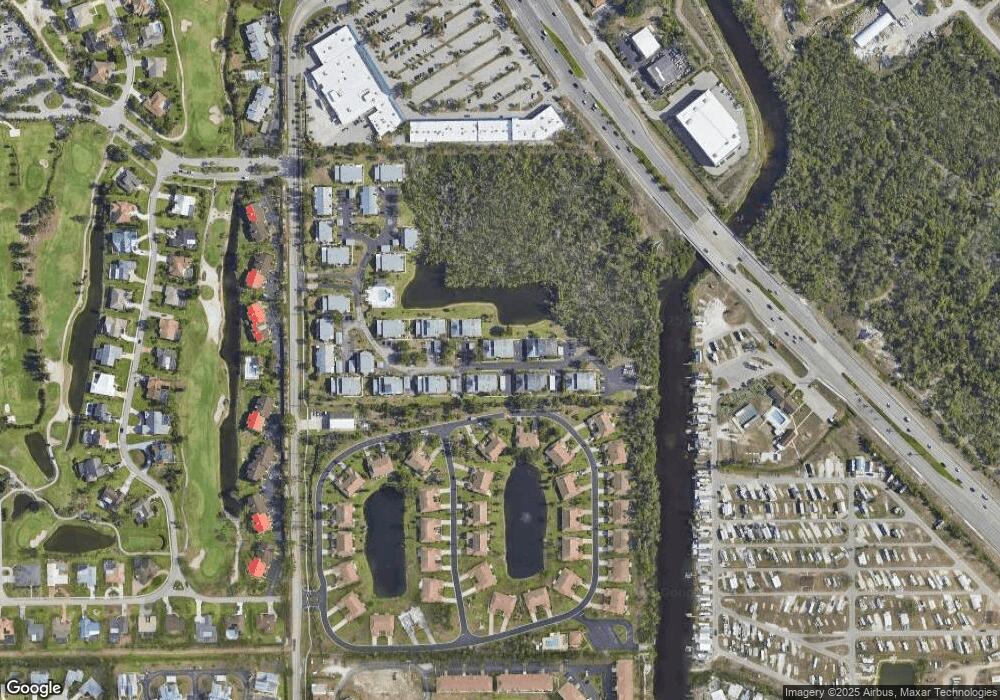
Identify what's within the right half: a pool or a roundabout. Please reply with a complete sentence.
The feature located within the right half is a pool.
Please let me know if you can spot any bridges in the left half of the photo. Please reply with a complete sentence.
No, there's no bridge to be seen in the left half of the photo.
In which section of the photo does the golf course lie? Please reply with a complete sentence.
You can find the golf course in the left area of the picture.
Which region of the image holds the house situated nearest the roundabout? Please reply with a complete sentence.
The house situated nearest the roundabout is located in the top left region of the scene.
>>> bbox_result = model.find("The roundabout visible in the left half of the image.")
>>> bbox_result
[33,87,75,118]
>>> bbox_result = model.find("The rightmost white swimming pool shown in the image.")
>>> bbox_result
[761,404,788,431]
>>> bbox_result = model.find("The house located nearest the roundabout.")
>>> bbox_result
[85,61,114,82]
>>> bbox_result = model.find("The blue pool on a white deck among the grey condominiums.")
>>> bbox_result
[368,287,394,307]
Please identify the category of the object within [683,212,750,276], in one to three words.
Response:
bridge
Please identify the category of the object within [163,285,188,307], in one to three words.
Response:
house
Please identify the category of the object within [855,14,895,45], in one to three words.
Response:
shed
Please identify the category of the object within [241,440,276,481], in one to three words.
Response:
building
